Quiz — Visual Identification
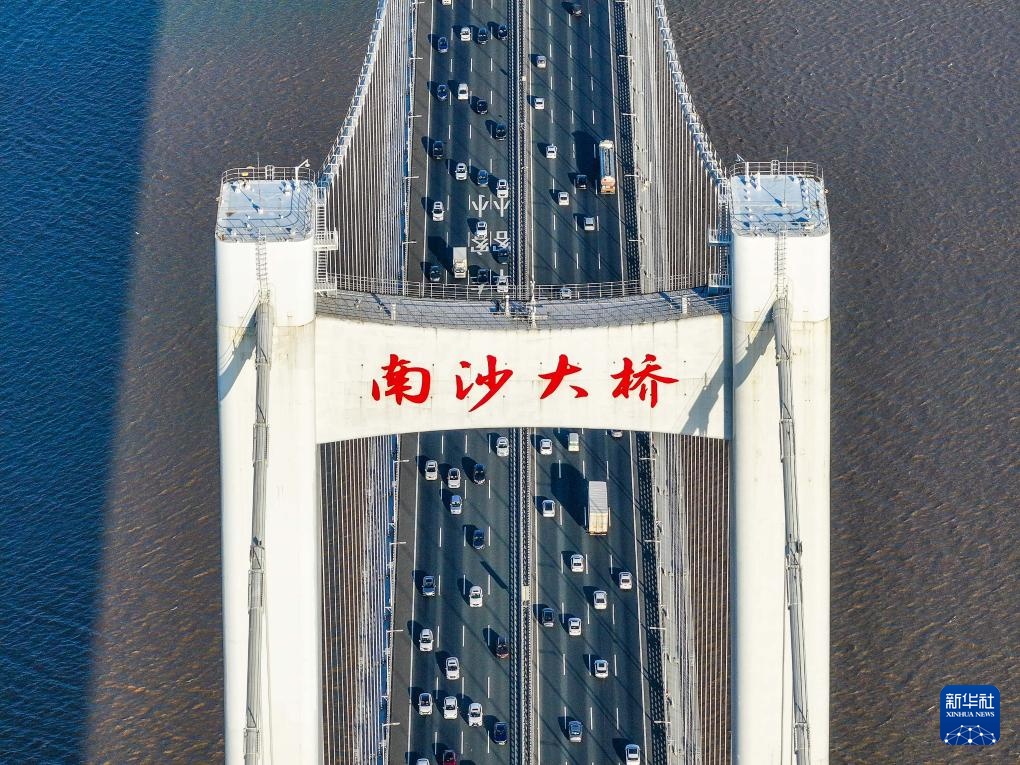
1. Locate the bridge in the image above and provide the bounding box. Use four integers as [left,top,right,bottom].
[215,0,831,765]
